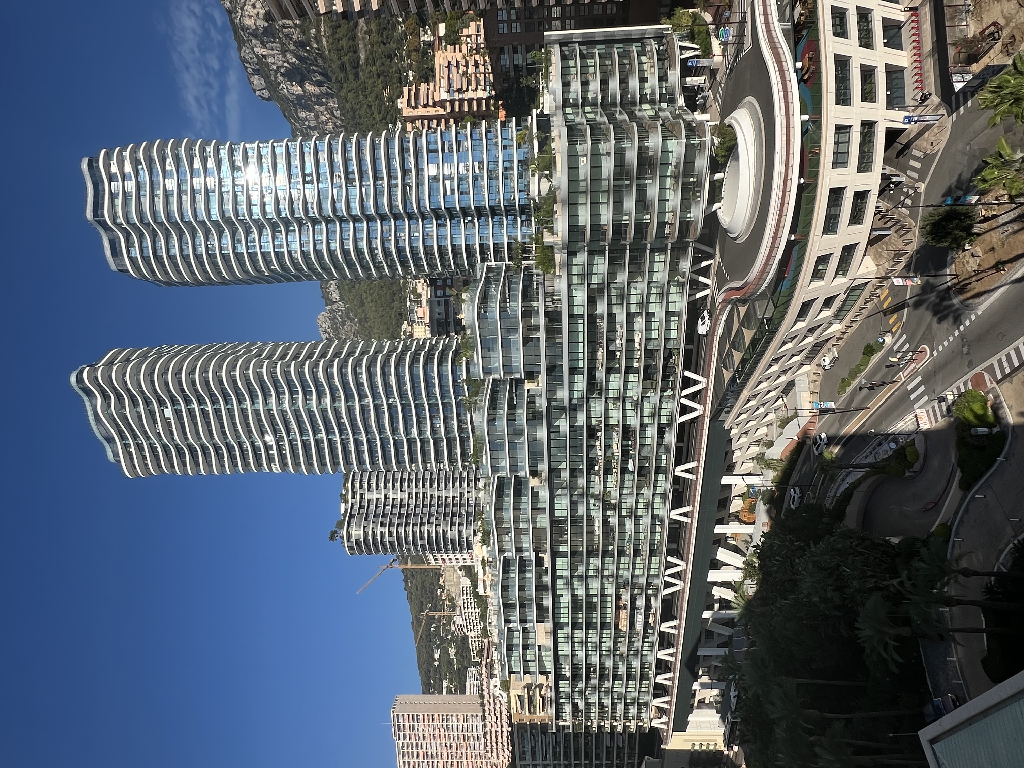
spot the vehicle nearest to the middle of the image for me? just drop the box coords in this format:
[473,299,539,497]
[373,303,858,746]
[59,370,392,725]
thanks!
[697,309,709,336]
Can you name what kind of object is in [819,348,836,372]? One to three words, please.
car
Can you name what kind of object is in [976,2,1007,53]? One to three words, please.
work vehicle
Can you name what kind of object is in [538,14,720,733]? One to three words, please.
building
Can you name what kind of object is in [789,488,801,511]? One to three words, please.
vehicle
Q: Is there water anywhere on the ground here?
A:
No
